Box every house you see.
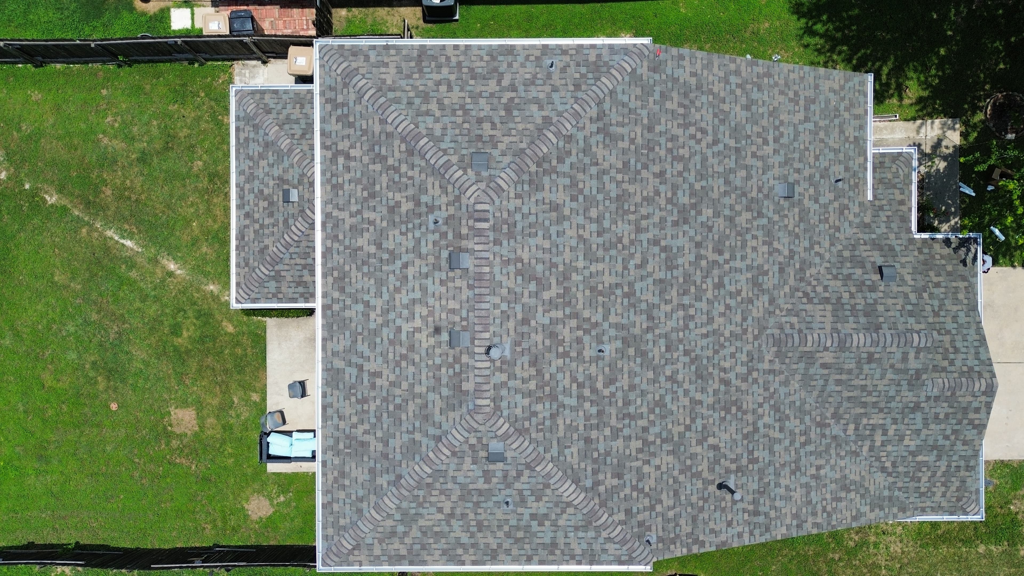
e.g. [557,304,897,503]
[229,38,998,573]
